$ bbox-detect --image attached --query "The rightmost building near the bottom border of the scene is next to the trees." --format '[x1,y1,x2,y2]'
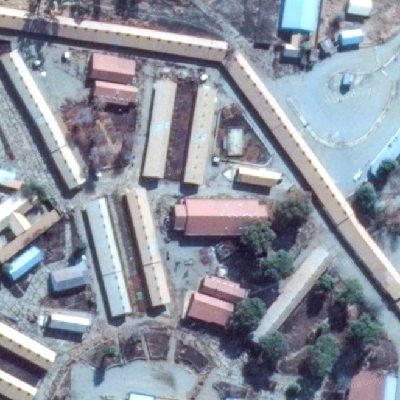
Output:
[349,372,397,400]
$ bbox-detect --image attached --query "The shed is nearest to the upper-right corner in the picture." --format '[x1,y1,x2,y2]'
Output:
[347,0,372,16]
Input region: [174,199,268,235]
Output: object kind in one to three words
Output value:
building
